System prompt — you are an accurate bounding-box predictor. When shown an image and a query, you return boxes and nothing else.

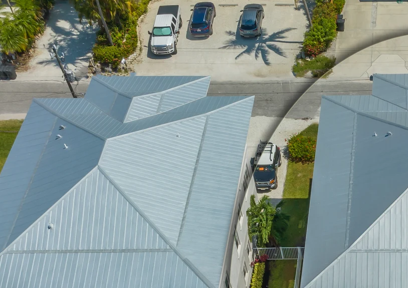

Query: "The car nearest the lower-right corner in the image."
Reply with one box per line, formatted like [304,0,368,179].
[251,131,284,184]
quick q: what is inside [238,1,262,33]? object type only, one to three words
car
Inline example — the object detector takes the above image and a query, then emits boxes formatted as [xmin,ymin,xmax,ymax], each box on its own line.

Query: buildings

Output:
[300,73,408,288]
[0,74,262,288]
